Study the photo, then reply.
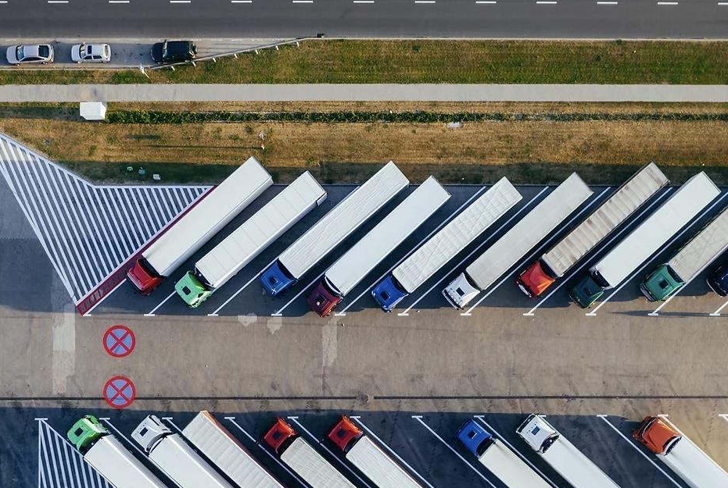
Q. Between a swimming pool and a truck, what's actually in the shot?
truck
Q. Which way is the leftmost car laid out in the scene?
from side to side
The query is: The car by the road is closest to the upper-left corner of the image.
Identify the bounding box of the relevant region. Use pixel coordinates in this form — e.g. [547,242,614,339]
[7,42,57,66]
